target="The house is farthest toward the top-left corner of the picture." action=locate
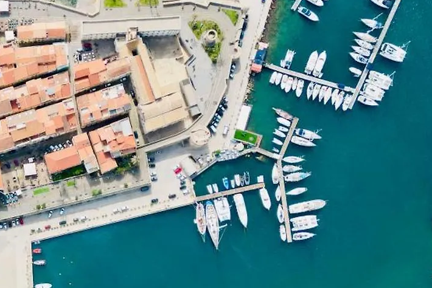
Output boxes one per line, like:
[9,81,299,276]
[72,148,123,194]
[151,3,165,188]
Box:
[17,24,47,42]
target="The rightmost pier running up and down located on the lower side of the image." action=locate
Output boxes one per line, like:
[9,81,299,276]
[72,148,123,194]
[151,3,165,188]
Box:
[277,117,297,242]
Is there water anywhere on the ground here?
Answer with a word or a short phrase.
Yes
